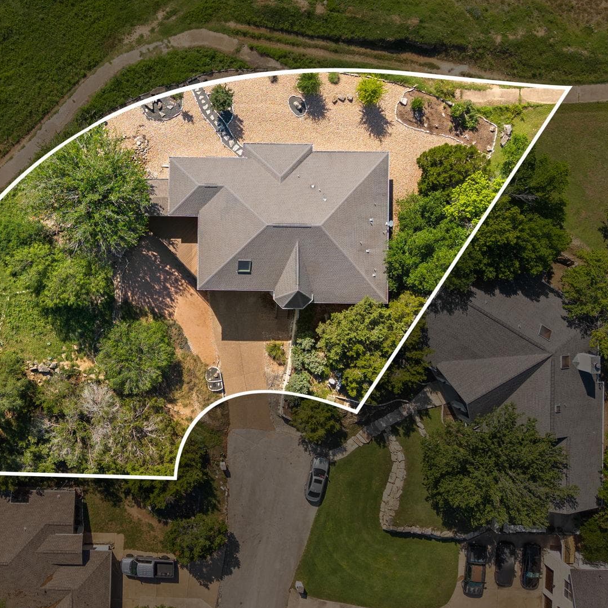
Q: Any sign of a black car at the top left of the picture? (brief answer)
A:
No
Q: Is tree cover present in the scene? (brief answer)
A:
Yes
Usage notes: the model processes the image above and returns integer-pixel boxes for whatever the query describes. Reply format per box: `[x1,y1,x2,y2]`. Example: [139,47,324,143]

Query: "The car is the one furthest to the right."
[522,544,545,590]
